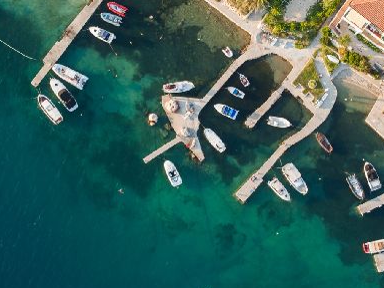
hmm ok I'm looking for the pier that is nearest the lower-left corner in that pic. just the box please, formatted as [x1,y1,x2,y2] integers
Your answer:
[142,136,182,165]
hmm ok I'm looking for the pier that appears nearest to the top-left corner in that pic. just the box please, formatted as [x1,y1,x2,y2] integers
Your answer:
[31,0,105,88]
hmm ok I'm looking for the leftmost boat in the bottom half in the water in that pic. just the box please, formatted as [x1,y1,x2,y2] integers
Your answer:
[162,157,183,190]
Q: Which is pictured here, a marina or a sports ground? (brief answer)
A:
marina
